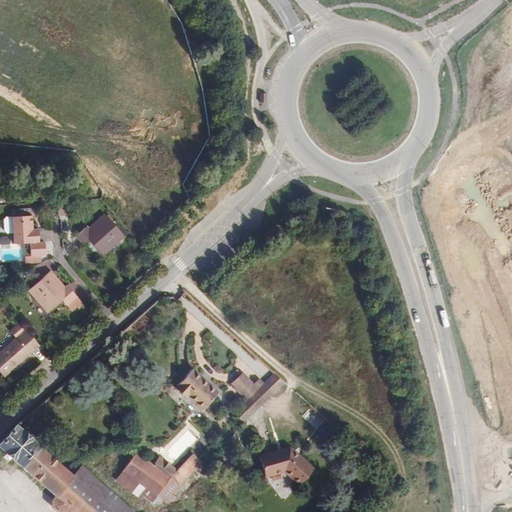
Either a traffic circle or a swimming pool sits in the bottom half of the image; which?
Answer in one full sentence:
Visible in the bottom half of the image is a swimming pool.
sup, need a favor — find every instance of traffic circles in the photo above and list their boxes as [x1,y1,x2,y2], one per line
[270,21,440,184]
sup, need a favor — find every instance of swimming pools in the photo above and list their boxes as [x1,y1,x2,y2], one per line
[0,244,24,264]
[154,424,200,464]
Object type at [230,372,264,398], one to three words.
barn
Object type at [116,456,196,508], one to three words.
shed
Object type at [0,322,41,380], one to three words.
house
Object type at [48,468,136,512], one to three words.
barn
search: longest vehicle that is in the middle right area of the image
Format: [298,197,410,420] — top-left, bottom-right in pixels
[421,252,438,286]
